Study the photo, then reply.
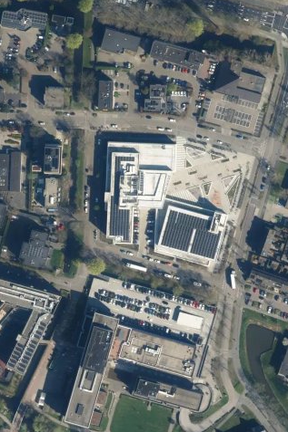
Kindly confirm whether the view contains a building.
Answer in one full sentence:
Yes, looking at the shot, I can spot a building.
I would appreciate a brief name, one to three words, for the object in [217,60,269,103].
building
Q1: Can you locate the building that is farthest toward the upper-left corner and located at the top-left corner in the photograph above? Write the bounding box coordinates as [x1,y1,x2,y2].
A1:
[1,8,48,31]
